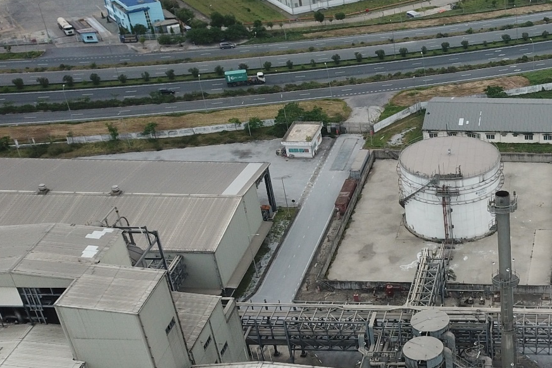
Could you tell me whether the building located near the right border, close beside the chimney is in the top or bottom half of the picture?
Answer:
top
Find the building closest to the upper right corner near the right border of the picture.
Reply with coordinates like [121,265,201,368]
[405,103,552,142]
